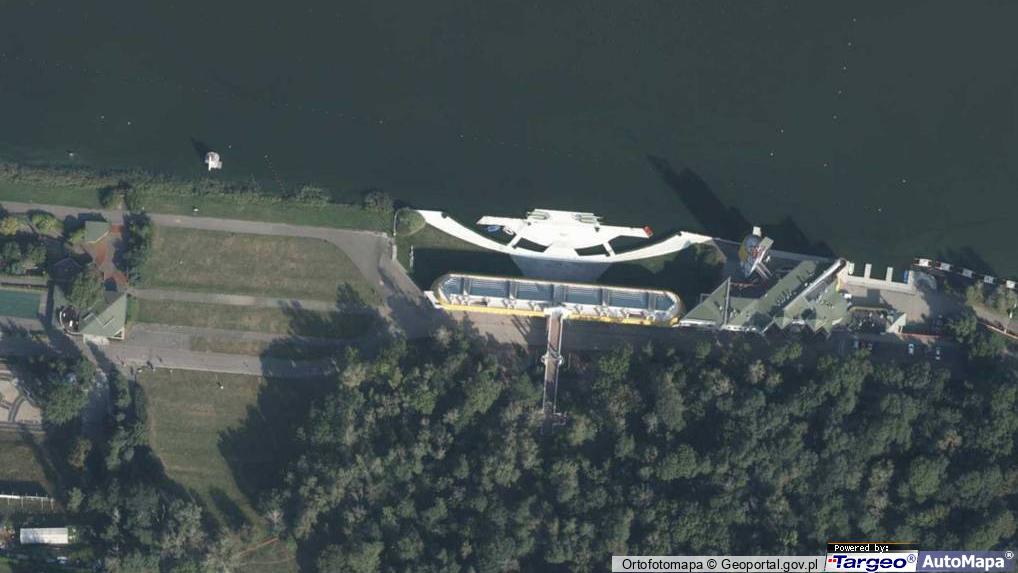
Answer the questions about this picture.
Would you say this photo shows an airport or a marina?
marina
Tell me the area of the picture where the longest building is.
right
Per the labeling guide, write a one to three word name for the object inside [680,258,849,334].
building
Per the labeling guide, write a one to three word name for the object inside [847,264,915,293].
pier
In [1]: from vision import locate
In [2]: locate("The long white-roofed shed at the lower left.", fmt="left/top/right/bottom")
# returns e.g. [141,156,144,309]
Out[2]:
[20,528,69,545]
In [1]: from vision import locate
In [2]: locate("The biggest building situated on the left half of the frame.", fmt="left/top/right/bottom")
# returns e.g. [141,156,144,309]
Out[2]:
[76,290,126,344]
